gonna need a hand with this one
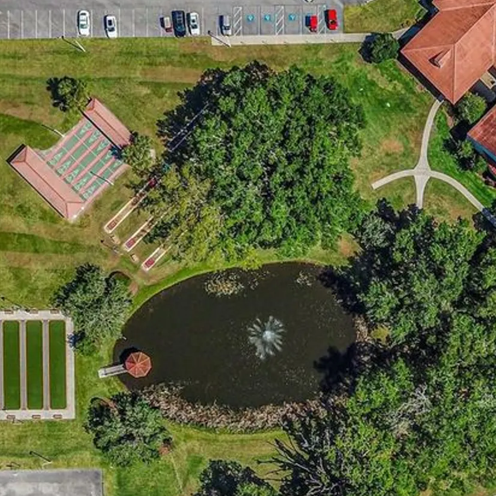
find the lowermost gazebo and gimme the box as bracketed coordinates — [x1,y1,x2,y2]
[126,350,155,377]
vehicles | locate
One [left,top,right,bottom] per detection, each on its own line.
[310,19,316,31]
[173,12,185,36]
[188,12,199,35]
[327,8,337,32]
[221,15,232,36]
[163,20,172,32]
[79,12,89,35]
[105,14,116,39]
